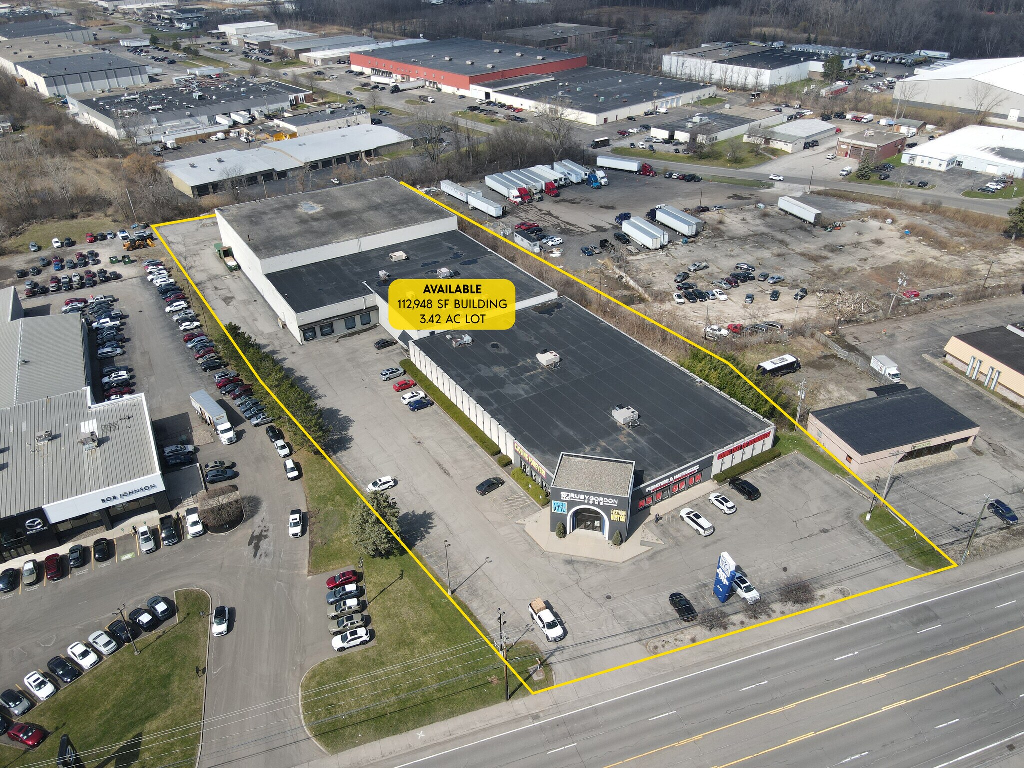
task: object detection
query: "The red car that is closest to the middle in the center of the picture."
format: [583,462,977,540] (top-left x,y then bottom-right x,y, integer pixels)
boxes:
[391,381,419,394]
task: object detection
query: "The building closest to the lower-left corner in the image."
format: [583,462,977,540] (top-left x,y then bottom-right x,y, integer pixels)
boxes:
[0,286,206,566]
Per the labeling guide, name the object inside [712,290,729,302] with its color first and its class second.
white vehicle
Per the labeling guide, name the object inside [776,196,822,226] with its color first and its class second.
white trailer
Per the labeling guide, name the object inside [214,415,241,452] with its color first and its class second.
white truck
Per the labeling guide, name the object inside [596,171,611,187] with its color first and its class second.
white vehicle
